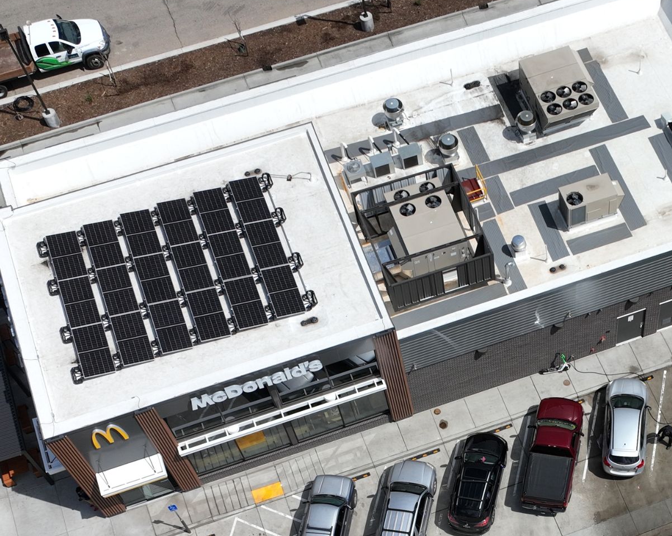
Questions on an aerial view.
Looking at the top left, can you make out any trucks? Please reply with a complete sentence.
Yes, a truck shows up at the top left.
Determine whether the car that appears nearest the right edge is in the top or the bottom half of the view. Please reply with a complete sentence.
The car that appears nearest the right edge sits in the bottom half of the picture.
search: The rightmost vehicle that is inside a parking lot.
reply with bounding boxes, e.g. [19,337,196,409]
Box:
[602,380,654,478]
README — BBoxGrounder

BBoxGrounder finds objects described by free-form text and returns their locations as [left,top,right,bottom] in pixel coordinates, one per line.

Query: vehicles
[523,394,586,514]
[375,458,437,536]
[447,431,510,536]
[0,15,113,84]
[296,472,356,536]
[602,380,654,478]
